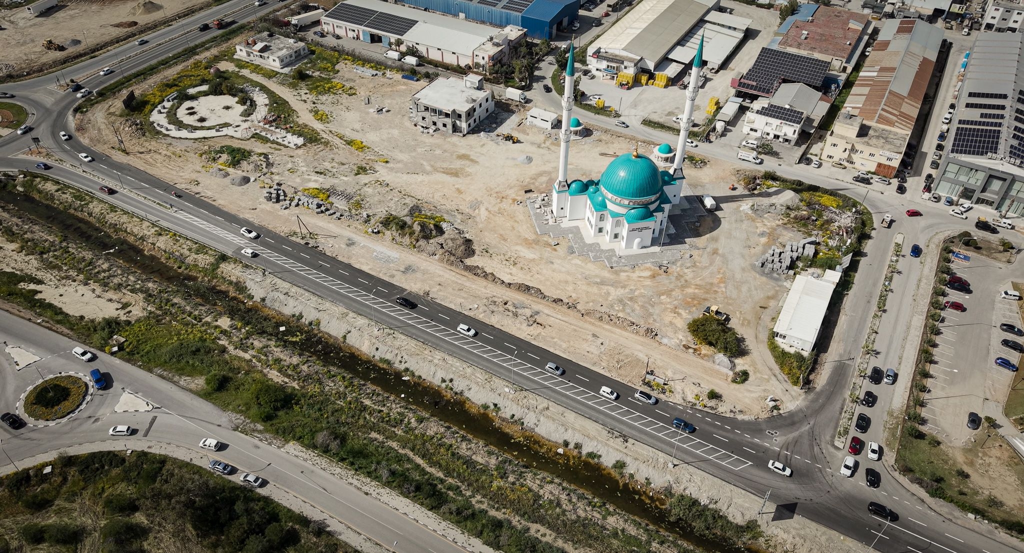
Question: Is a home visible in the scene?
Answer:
Yes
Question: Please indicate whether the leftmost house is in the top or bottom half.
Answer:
top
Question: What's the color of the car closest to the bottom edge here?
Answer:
black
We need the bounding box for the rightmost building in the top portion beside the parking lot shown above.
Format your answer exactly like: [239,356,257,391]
[933,36,1024,221]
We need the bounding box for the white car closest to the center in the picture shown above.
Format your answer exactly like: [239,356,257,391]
[457,324,476,338]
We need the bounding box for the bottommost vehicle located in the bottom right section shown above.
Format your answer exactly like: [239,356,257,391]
[868,501,898,523]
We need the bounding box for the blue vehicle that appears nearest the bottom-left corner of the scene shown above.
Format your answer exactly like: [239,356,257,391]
[90,368,106,390]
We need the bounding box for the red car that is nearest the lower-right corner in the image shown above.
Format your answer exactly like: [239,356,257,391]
[848,436,861,456]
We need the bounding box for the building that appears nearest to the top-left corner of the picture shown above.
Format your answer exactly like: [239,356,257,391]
[230,32,315,71]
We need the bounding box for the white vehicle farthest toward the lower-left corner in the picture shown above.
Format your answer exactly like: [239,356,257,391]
[108,425,133,438]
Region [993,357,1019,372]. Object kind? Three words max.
car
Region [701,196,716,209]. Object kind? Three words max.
vehicle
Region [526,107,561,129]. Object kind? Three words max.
shed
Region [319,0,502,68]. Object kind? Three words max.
building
